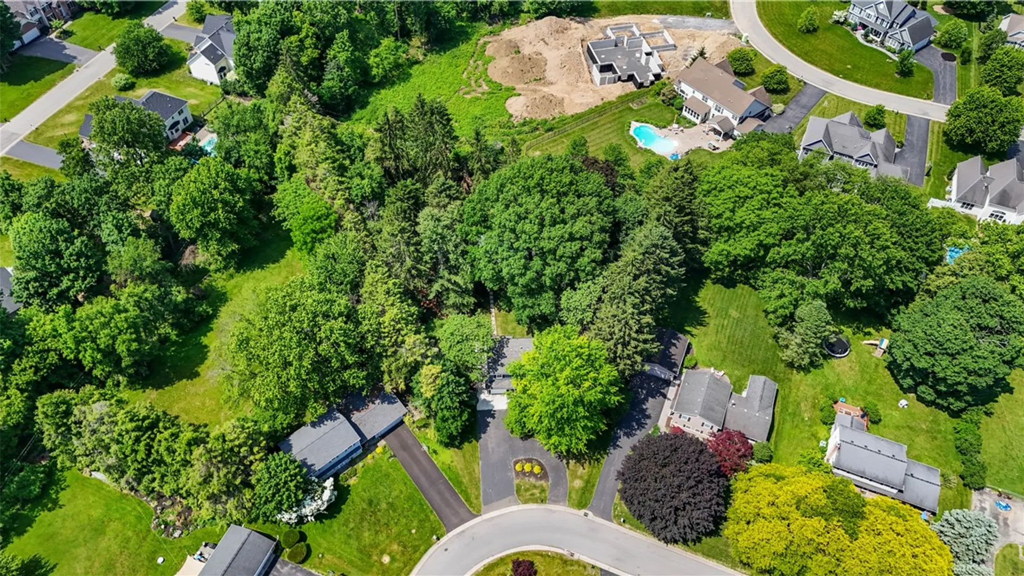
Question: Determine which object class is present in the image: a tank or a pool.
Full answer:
The one in the frame is a pool.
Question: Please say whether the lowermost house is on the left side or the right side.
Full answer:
It is on the left.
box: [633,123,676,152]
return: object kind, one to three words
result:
swimming pool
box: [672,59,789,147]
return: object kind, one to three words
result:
house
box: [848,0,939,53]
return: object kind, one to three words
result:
house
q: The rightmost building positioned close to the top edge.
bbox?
[995,13,1024,52]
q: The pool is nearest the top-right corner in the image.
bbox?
[939,242,970,265]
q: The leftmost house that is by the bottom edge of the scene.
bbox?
[195,524,275,576]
